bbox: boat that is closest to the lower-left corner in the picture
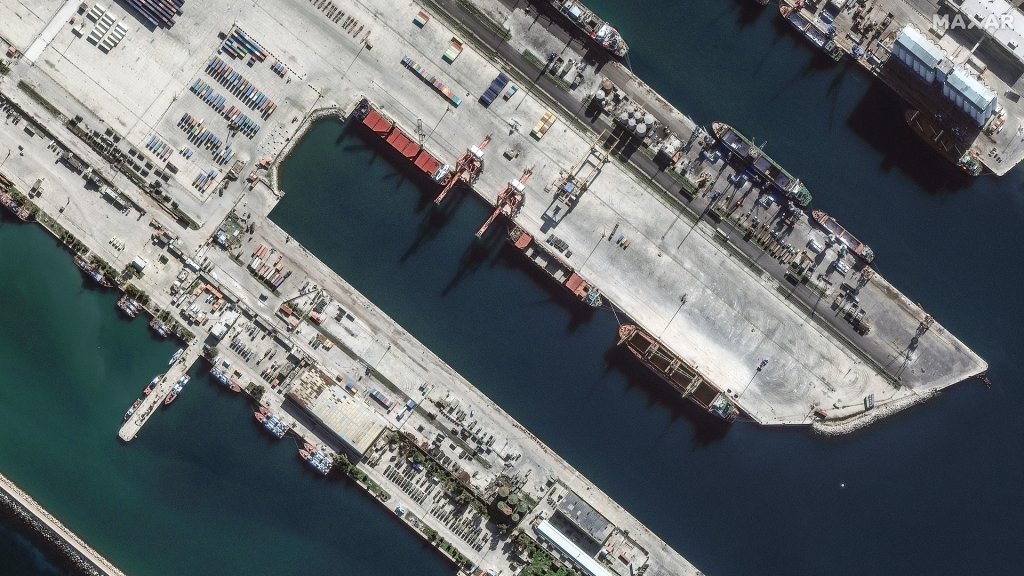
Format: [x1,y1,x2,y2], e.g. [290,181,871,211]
[124,399,142,418]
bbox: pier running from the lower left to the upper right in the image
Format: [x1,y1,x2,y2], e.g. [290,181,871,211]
[119,345,204,442]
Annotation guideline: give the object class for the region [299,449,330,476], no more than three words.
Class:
boat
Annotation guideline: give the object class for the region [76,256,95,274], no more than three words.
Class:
boat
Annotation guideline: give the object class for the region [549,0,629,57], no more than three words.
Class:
ship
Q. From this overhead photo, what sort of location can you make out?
port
